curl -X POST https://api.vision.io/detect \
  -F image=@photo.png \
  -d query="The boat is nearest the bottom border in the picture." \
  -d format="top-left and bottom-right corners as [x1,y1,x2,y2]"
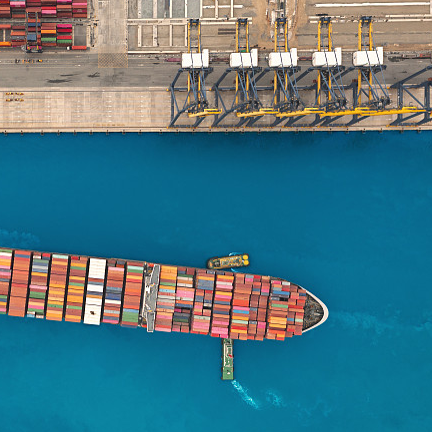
[221,337,234,380]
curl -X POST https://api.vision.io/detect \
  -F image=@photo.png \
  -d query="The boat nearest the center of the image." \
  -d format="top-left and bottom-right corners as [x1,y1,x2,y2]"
[207,252,250,269]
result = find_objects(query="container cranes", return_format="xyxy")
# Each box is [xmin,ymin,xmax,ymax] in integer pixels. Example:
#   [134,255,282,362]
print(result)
[279,16,377,128]
[314,16,423,127]
[241,16,327,128]
[206,16,281,128]
[165,16,226,128]
[383,52,432,127]
[25,11,42,54]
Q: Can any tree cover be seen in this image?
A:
No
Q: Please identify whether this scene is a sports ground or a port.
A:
port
